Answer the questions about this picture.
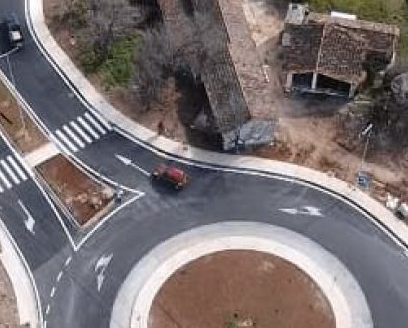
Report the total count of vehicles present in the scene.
two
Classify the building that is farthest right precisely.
residential house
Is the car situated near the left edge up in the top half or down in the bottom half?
top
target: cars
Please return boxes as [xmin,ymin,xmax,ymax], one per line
[2,22,24,49]
[149,165,190,191]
